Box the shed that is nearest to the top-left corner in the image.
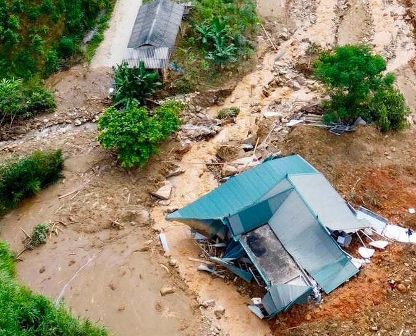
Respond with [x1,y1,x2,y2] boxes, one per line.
[117,0,185,85]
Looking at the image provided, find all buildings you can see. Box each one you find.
[166,154,381,319]
[117,0,185,85]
